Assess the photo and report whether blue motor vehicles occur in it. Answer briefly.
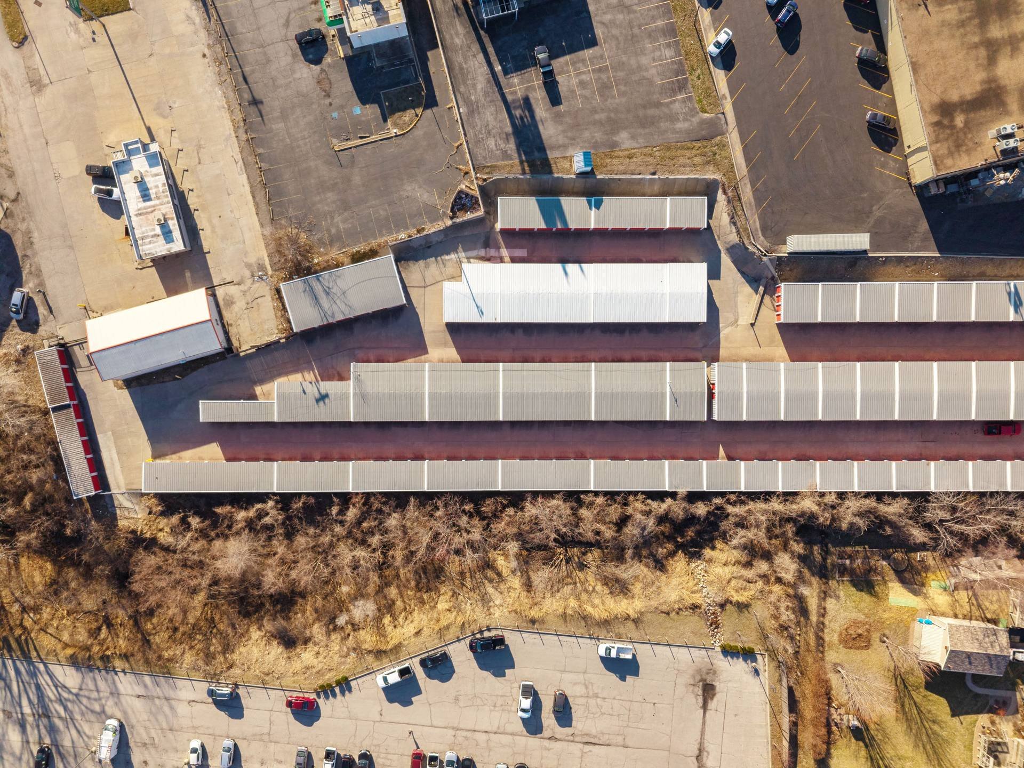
Yes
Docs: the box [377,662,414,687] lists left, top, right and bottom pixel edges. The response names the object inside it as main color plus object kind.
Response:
white truck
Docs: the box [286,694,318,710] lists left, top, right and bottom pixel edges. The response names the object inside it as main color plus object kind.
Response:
red car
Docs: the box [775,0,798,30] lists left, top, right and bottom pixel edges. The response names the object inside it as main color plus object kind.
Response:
blue car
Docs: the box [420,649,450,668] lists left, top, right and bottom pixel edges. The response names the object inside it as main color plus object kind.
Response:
black car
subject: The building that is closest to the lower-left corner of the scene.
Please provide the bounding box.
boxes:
[33,345,105,499]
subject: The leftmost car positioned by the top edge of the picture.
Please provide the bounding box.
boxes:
[294,27,327,47]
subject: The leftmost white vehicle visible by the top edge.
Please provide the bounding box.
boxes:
[708,27,732,59]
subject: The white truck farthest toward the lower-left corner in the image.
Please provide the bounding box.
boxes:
[92,717,121,766]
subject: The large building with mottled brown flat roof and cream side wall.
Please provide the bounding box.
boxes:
[864,0,1024,187]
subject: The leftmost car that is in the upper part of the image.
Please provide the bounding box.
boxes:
[11,289,30,320]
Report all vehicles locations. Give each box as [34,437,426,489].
[775,0,798,30]
[420,649,450,668]
[518,679,535,717]
[189,738,204,768]
[469,633,505,652]
[552,686,566,715]
[207,684,238,700]
[377,662,414,687]
[357,748,371,768]
[982,422,1022,436]
[218,737,235,768]
[444,749,458,768]
[341,753,354,768]
[516,761,527,768]
[87,163,117,179]
[598,643,632,659]
[294,27,327,47]
[321,745,336,768]
[93,185,123,201]
[286,694,318,710]
[708,27,732,59]
[426,749,440,768]
[293,744,308,768]
[36,743,53,768]
[92,717,121,766]
[462,754,474,768]
[11,289,30,320]
[535,45,556,84]
[410,747,424,768]
[864,111,897,130]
